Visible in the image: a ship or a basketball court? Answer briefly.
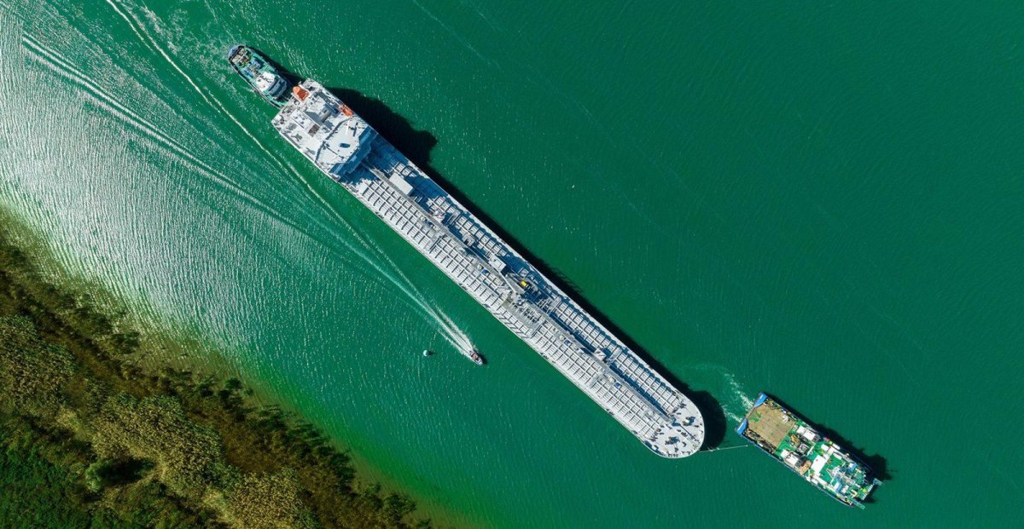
ship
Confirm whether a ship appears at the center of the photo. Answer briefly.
Yes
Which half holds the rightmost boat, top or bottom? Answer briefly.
bottom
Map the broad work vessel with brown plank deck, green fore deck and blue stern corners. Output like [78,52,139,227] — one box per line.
[734,391,883,512]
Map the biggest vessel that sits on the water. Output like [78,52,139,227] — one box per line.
[271,81,705,457]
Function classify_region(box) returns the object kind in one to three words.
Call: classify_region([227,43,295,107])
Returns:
boat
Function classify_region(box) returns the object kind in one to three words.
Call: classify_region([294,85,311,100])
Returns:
boat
